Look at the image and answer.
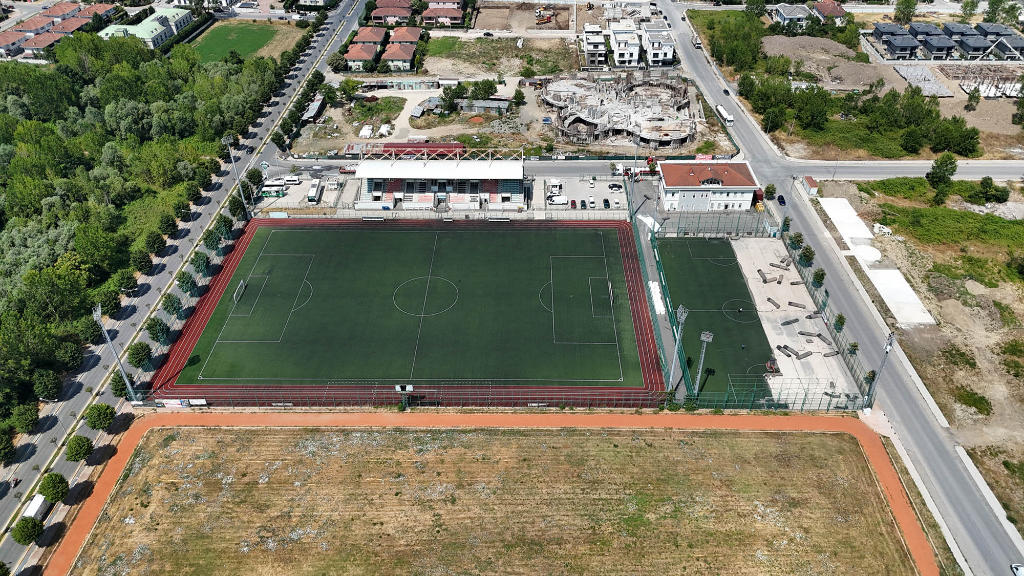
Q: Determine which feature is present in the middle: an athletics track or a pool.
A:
athletics track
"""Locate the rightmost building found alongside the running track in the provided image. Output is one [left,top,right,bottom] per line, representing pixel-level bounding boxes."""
[653,156,762,210]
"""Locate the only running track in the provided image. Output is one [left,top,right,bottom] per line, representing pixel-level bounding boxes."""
[145,218,667,409]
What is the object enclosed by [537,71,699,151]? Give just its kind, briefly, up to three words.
building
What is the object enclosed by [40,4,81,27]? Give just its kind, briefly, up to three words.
house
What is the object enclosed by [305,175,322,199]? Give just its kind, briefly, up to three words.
vehicle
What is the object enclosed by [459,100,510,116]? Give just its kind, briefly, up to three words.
shed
